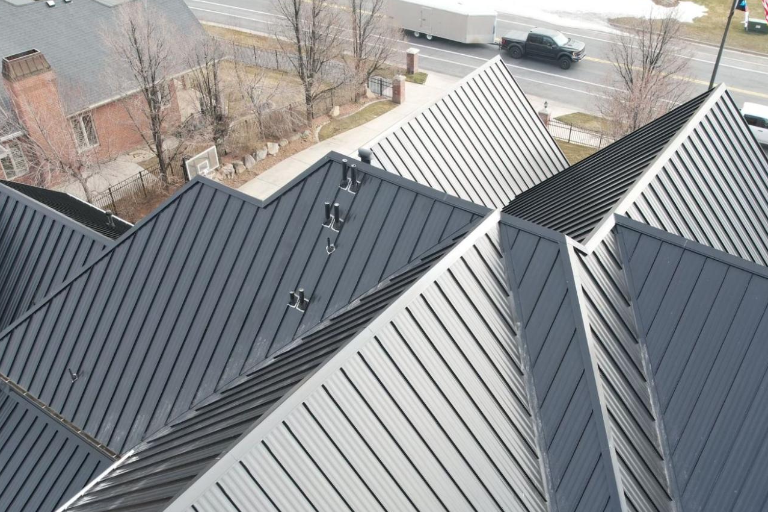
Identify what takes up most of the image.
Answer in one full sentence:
Most of the picture is covered by buildings.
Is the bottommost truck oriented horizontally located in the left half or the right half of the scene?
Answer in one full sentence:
The bottommost truck oriented horizontally appears in the right half of the scene.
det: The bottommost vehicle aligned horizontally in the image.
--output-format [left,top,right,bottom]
[499,25,590,69]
